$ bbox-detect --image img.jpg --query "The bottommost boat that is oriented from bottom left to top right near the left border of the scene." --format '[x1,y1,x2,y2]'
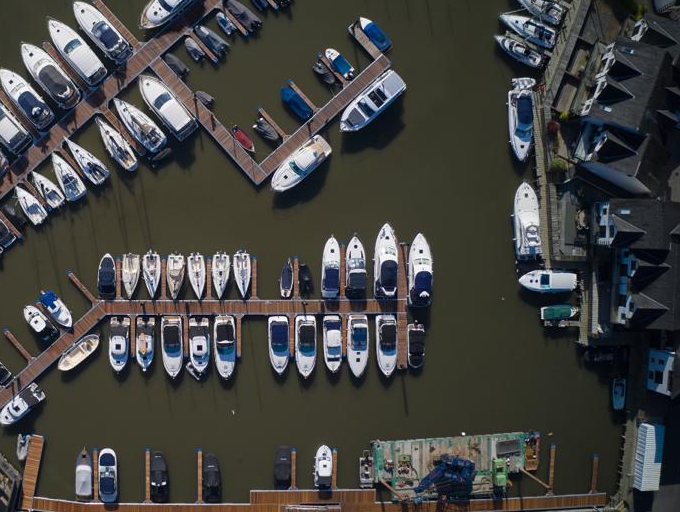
[0,381,52,424]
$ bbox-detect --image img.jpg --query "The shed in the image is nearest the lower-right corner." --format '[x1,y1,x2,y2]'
[632,425,668,495]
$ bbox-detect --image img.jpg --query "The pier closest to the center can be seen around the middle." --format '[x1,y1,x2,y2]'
[336,242,350,301]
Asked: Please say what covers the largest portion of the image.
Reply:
water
